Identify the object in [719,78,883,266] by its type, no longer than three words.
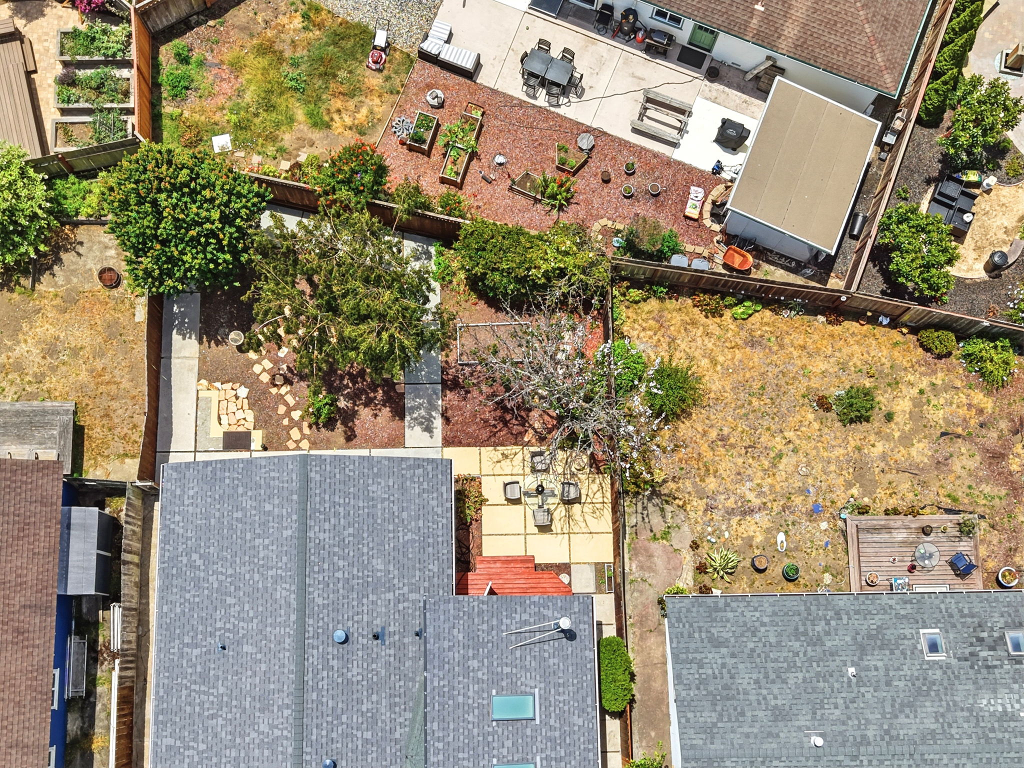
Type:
shed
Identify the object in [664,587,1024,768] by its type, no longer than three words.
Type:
house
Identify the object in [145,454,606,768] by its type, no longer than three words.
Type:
house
